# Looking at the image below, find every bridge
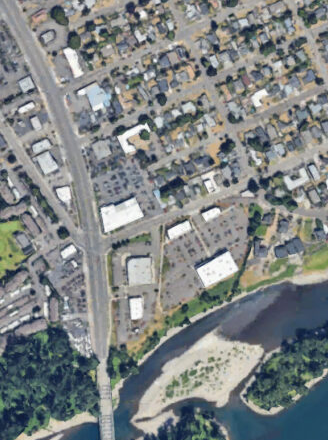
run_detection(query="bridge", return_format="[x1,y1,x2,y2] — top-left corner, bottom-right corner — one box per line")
[96,354,113,440]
